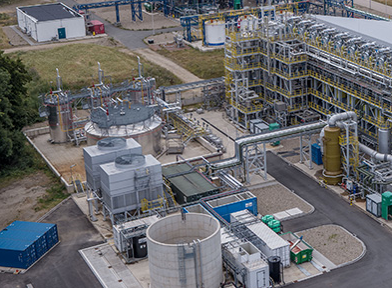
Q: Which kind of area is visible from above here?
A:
industrial area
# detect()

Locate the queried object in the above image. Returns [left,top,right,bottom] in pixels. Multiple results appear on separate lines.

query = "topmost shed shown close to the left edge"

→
[16,2,110,43]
